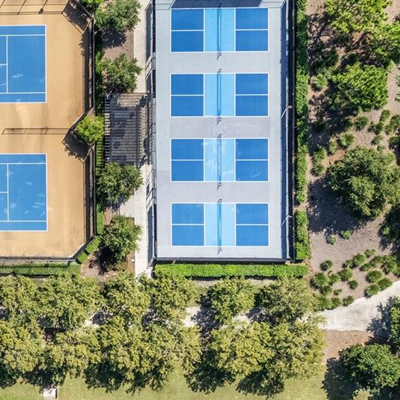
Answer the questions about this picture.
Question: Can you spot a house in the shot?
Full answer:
No, the scene contains no house.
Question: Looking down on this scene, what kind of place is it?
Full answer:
This image shows a sports ground.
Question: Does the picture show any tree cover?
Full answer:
Yes, there is tree cover in the image.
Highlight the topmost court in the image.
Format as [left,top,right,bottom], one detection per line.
[152,0,287,62]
